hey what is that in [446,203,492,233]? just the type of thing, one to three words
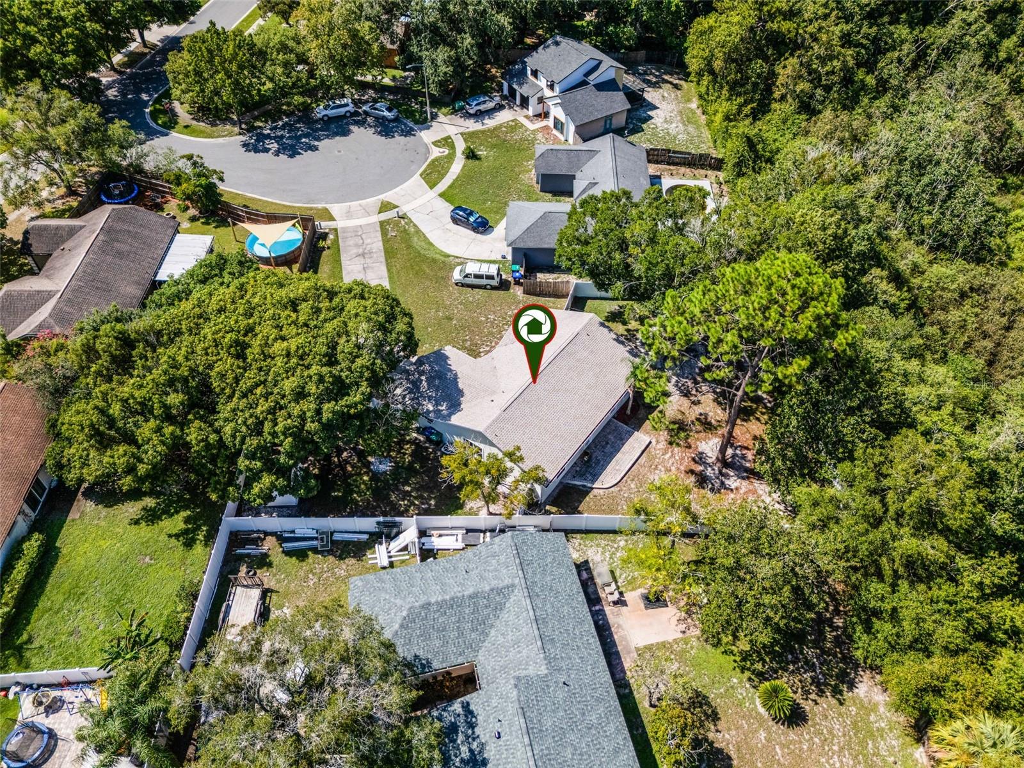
car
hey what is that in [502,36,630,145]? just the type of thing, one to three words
house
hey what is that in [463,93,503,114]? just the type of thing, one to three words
car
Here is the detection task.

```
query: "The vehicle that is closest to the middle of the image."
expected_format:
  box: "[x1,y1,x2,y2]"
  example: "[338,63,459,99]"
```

[450,261,504,291]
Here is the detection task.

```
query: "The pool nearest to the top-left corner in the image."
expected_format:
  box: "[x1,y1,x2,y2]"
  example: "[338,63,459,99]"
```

[244,224,306,272]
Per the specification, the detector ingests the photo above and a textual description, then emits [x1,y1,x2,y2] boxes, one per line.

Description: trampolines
[0,709,57,768]
[92,168,142,205]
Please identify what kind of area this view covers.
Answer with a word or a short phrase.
residential area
